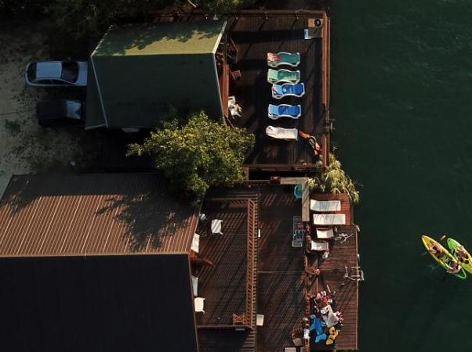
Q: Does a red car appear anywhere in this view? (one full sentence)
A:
No, the frame has no red car in it.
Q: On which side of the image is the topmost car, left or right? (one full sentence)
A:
The topmost car sits on the left side.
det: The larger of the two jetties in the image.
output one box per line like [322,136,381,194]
[308,227,360,349]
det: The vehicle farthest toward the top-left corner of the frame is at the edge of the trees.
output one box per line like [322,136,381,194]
[24,57,90,90]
